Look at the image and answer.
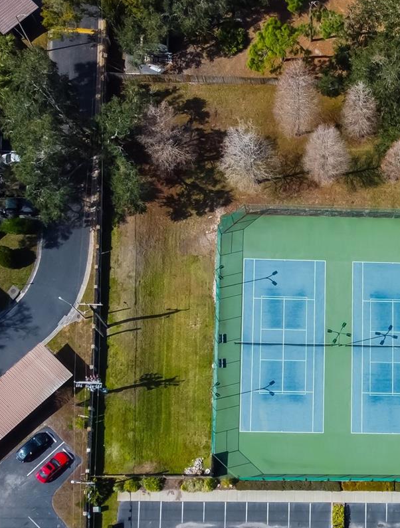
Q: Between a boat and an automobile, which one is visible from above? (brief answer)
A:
automobile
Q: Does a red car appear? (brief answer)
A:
Yes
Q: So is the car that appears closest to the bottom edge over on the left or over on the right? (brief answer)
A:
left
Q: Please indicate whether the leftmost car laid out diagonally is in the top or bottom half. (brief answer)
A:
bottom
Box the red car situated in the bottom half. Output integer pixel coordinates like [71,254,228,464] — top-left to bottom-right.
[37,451,73,481]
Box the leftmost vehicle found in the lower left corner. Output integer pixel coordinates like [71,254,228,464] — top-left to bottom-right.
[16,429,53,461]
